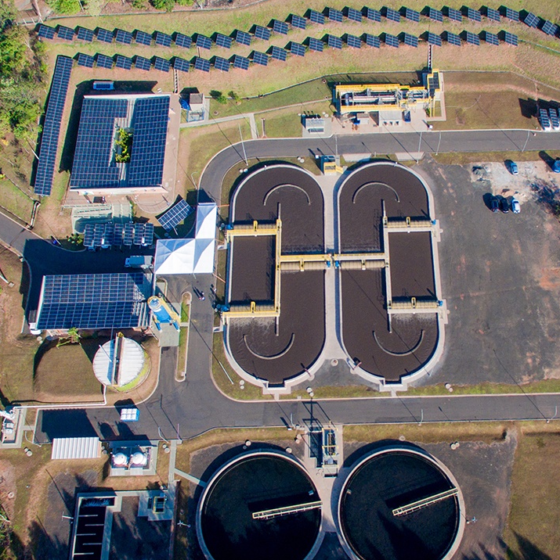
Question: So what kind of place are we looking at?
industrial area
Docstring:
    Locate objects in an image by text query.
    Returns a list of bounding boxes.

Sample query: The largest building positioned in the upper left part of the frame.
[70,93,173,197]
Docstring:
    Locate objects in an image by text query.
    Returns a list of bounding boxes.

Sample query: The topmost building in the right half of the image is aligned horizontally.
[332,66,441,118]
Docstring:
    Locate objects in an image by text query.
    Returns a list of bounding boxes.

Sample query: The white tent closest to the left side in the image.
[155,239,196,279]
